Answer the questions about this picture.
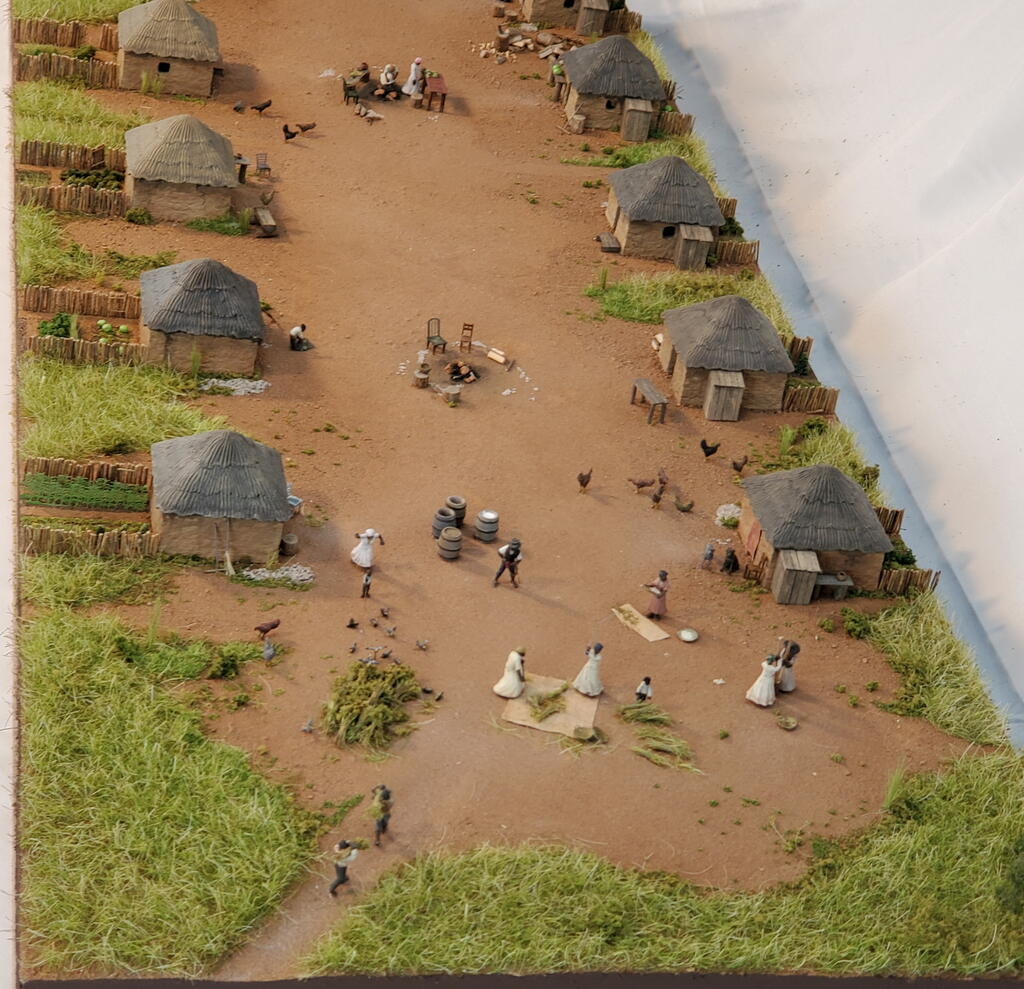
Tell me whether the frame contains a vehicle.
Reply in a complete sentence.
No, no vehicle is visible in the scene.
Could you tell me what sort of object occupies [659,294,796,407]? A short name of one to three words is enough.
shed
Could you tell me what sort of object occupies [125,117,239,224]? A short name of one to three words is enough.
shed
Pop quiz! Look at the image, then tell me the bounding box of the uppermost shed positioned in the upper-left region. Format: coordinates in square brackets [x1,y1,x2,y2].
[113,0,217,94]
